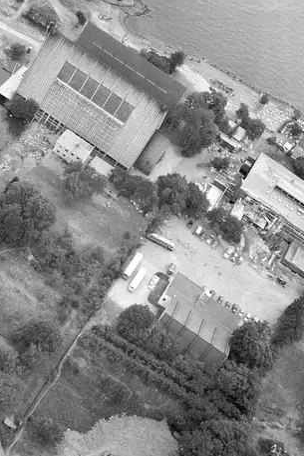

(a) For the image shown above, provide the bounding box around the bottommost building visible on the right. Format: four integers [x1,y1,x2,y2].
[152,275,245,372]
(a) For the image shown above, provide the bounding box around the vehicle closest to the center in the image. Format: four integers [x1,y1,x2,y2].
[148,232,175,251]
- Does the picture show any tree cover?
Yes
